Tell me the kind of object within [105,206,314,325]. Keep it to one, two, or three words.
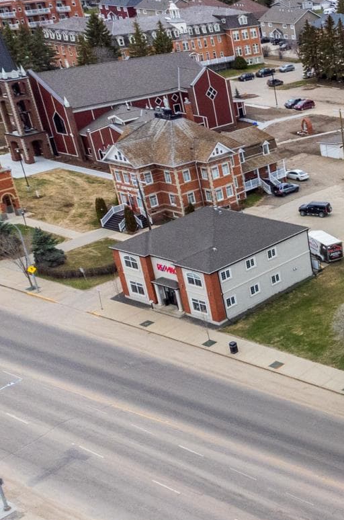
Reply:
building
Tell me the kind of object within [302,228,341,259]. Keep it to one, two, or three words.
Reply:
trailer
